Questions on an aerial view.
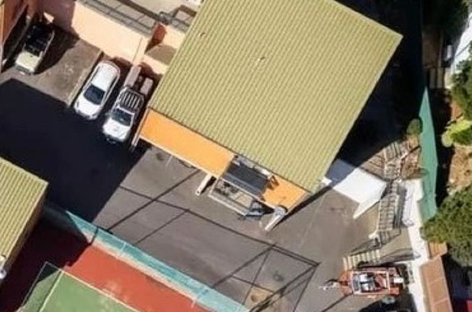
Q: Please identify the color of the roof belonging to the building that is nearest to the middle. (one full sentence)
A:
The roof of the building that is nearest to the middle is yellow.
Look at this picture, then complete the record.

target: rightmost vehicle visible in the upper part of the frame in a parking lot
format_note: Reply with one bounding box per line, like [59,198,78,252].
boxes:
[104,80,151,148]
